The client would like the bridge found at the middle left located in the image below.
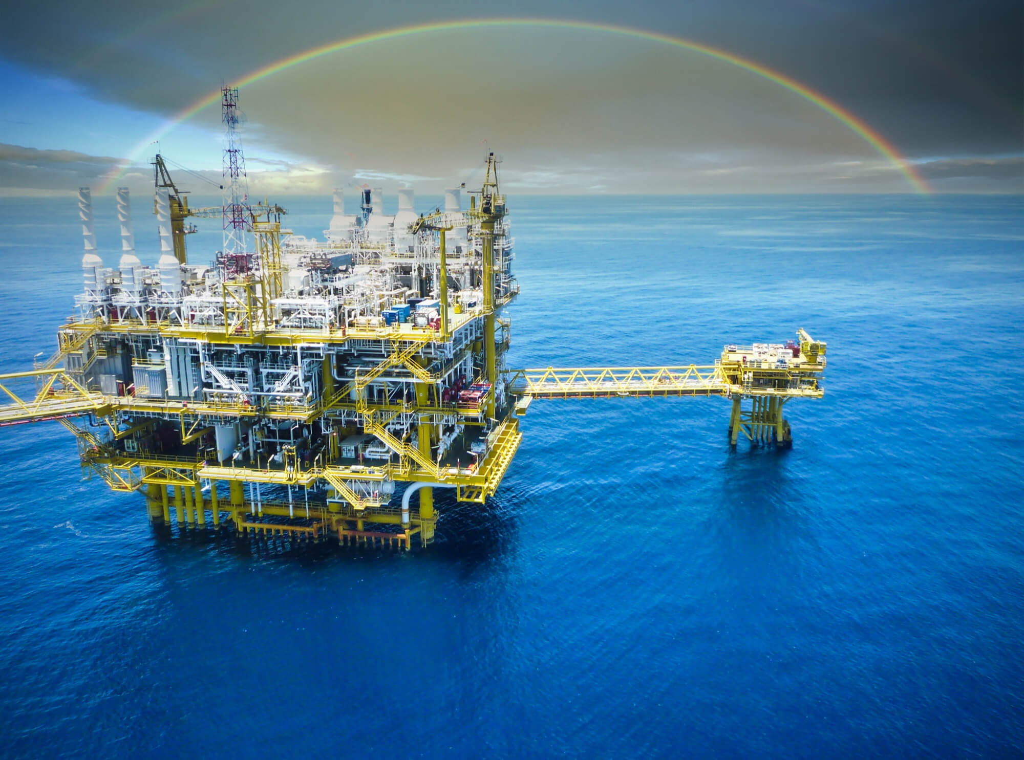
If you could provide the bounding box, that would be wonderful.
[0,370,129,435]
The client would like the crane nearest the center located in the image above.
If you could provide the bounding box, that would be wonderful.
[405,131,508,438]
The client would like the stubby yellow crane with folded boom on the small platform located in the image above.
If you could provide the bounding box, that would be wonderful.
[792,329,833,362]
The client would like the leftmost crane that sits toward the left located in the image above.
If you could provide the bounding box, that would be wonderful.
[153,141,290,274]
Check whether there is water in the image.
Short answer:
Yes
